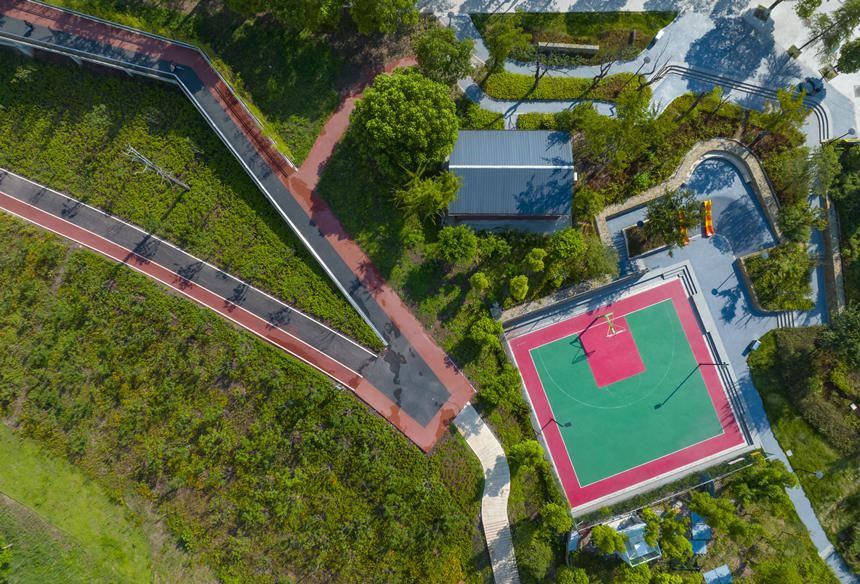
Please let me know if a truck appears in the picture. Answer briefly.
No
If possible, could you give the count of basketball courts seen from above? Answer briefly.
1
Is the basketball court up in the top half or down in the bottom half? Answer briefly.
bottom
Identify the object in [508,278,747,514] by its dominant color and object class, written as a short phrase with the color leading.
green basketball court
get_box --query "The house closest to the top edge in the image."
[448,129,576,219]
